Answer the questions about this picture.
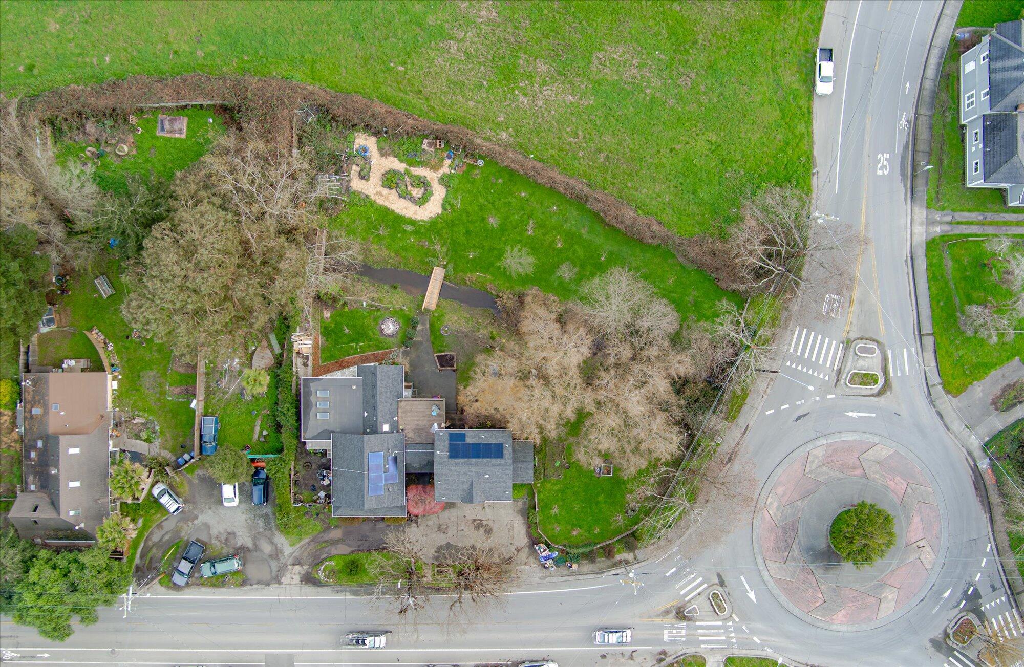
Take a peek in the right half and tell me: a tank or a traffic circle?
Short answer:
traffic circle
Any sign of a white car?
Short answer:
Yes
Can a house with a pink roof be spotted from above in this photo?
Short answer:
No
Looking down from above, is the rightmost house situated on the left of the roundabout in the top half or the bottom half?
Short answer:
bottom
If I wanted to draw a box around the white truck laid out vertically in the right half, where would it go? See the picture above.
[813,47,836,97]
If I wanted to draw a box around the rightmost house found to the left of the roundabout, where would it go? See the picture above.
[405,429,533,504]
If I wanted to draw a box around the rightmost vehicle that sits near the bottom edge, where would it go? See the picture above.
[593,626,632,647]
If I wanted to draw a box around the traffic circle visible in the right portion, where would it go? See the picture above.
[752,433,950,631]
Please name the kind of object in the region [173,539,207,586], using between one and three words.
truck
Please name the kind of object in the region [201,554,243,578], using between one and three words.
car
